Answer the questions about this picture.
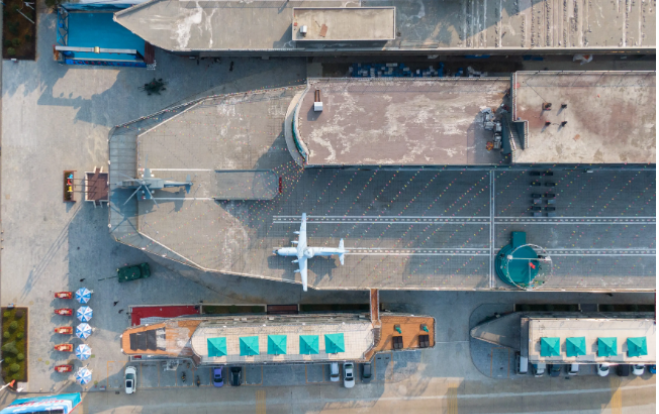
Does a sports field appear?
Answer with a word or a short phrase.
No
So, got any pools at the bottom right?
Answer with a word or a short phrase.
No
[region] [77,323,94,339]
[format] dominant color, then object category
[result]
white umbrella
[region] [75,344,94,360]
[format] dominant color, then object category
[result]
white umbrella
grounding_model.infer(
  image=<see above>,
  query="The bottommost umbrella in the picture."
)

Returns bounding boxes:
[78,367,95,382]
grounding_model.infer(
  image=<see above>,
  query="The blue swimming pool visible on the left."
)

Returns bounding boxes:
[53,8,156,68]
